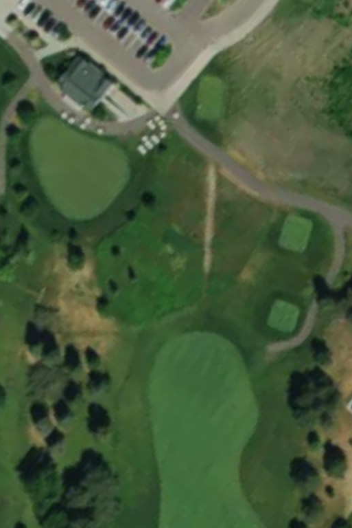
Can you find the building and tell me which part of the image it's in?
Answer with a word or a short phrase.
top left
